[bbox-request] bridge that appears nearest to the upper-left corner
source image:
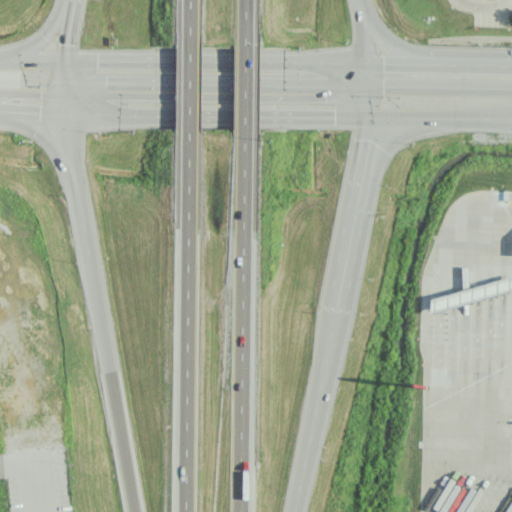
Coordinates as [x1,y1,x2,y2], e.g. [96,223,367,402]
[174,44,203,134]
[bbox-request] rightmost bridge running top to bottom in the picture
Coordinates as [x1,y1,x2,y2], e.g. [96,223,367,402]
[233,44,260,134]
